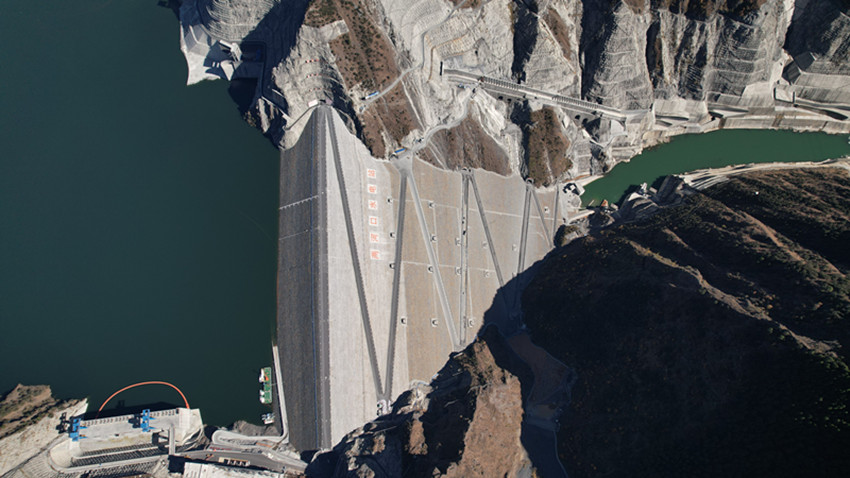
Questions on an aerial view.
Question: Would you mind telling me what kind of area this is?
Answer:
port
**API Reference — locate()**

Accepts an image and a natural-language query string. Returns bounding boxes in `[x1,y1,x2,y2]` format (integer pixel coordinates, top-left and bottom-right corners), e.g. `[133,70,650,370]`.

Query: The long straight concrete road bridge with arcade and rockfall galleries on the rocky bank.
[444,69,626,126]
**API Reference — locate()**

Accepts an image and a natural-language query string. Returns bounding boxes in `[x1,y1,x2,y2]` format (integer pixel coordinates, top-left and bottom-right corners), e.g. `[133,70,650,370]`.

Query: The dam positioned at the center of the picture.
[276,104,571,447]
